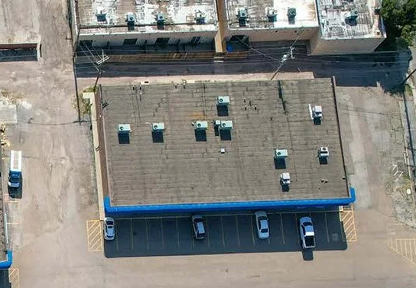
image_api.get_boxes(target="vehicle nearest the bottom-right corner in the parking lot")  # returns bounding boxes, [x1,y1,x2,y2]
[298,217,316,250]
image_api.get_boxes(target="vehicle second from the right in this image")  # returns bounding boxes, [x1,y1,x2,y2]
[253,213,270,241]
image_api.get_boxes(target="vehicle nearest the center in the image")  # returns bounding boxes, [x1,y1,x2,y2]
[191,215,206,241]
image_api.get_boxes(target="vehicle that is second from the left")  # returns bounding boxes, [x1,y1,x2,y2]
[103,217,115,242]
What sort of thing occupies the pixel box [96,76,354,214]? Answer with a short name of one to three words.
building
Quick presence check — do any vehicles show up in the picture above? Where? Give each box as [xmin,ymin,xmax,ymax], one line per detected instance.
[103,217,115,242]
[191,215,206,241]
[8,150,22,188]
[253,213,270,241]
[298,217,316,250]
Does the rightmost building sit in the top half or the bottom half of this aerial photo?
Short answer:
top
